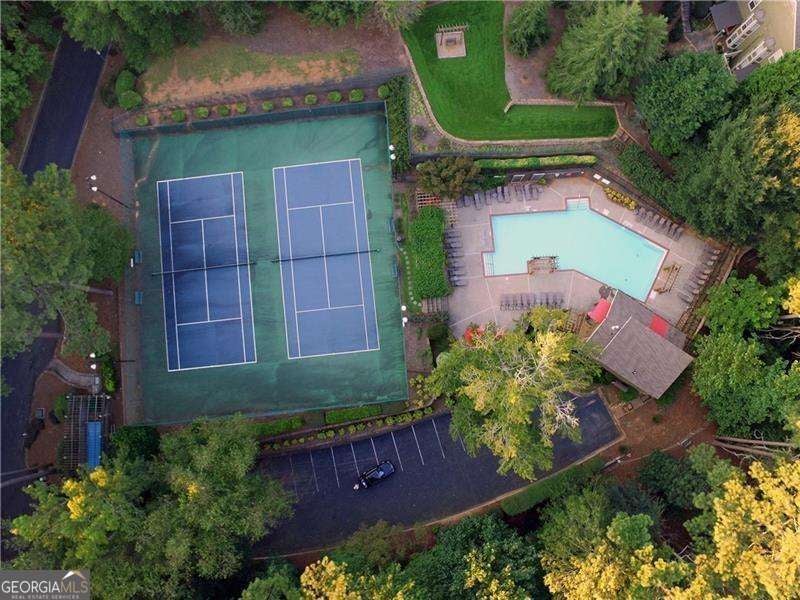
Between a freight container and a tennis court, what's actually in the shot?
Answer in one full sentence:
It is a tennis court that can be seen here.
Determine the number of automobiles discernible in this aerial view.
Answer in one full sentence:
There is 1 automobile in the image.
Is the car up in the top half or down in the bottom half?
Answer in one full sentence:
The bottom half of the photo is where the car is.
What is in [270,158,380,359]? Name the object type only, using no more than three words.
tennis court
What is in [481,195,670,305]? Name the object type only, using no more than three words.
swimming pool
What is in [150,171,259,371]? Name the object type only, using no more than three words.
tennis court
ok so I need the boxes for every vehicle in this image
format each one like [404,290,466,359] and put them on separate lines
[357,462,398,492]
